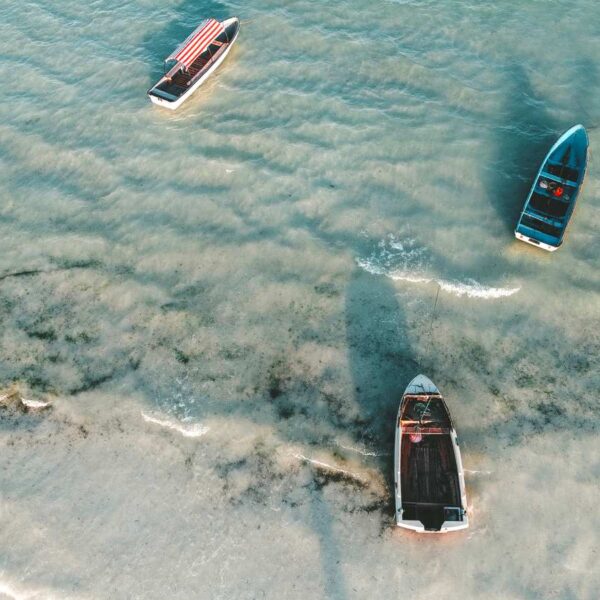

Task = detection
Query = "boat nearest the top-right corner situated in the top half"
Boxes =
[518,125,589,253]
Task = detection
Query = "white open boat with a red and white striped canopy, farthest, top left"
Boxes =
[149,18,241,111]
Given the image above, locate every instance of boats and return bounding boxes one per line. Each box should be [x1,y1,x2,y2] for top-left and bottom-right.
[518,125,589,253]
[149,18,241,111]
[391,373,468,531]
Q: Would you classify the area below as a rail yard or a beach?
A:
beach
